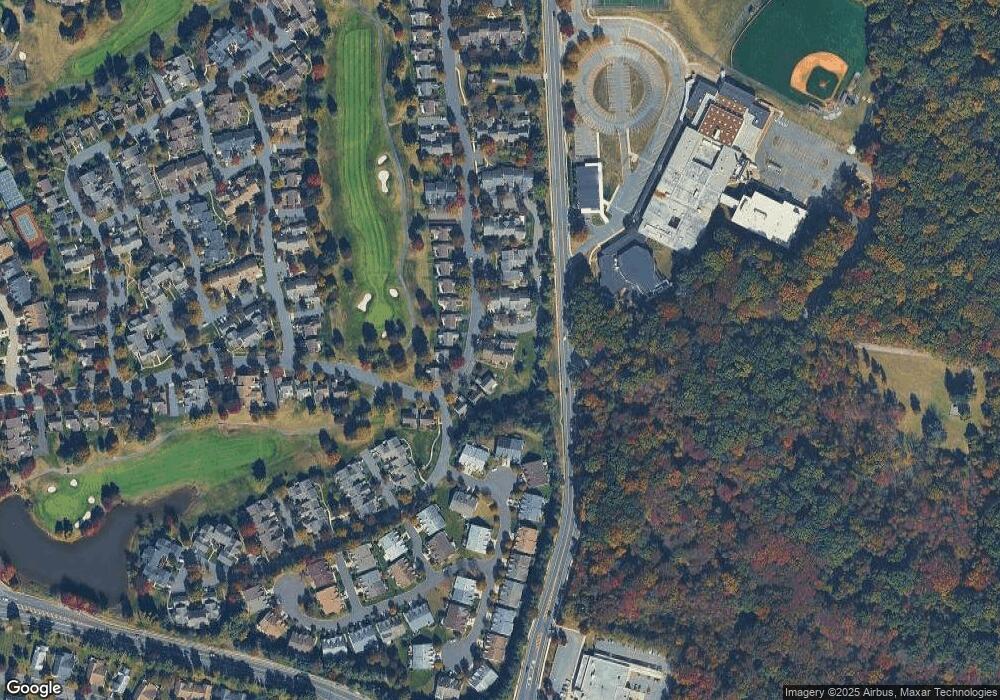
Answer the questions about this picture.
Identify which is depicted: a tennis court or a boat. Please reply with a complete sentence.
It is a tennis court that can be seen here.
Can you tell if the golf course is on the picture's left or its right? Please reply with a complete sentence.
The golf course sits on the left side.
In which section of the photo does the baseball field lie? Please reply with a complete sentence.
The baseball field sits in the top right section of the image.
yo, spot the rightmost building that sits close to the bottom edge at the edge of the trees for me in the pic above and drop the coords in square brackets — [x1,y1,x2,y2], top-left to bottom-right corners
[569,654,667,700]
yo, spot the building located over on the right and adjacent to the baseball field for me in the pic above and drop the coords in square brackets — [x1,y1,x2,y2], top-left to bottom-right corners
[638,79,808,249]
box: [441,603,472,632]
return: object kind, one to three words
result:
house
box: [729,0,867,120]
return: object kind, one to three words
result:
baseball field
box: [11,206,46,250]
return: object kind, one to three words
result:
tennis court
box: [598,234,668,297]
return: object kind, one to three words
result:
building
